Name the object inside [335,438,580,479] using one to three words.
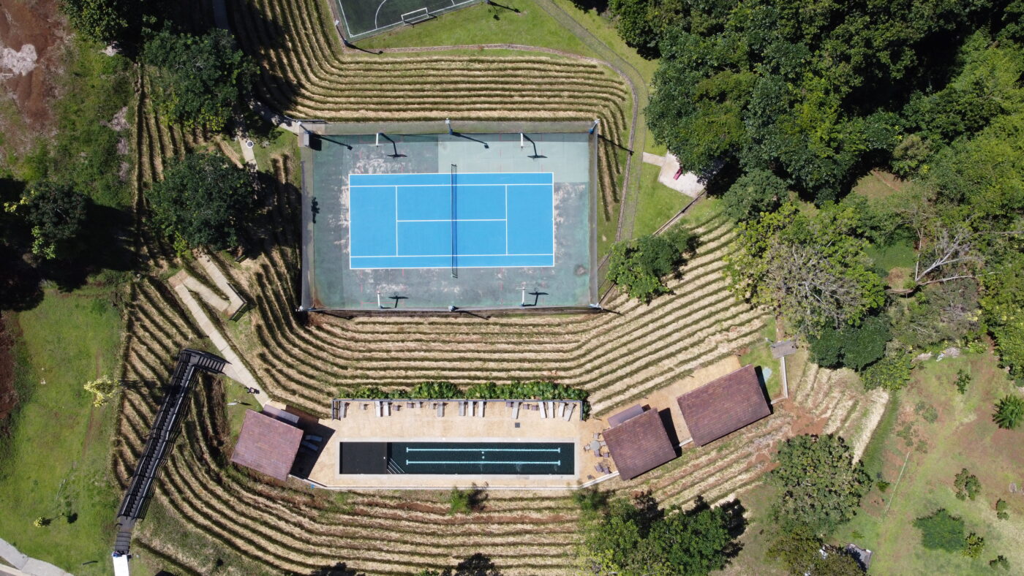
swimming pool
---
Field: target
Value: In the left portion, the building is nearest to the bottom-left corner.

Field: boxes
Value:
[231,408,308,481]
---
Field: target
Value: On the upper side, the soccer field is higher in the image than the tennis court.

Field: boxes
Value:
[335,0,485,41]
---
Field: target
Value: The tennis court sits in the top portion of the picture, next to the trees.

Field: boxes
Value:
[312,132,591,309]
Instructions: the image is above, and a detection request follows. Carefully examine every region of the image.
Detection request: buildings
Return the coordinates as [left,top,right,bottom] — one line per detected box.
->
[602,407,677,481]
[676,365,771,447]
[231,408,308,481]
[842,539,872,573]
